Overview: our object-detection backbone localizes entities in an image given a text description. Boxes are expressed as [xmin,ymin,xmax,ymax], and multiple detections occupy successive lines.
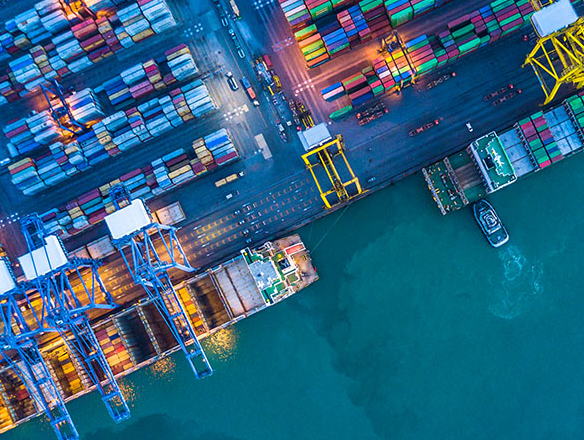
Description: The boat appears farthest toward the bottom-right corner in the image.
[472,200,507,249]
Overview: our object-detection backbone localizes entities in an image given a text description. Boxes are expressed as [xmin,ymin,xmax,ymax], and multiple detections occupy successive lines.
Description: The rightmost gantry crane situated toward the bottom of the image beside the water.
[104,183,213,384]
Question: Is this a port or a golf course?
port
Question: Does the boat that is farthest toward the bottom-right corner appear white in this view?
No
